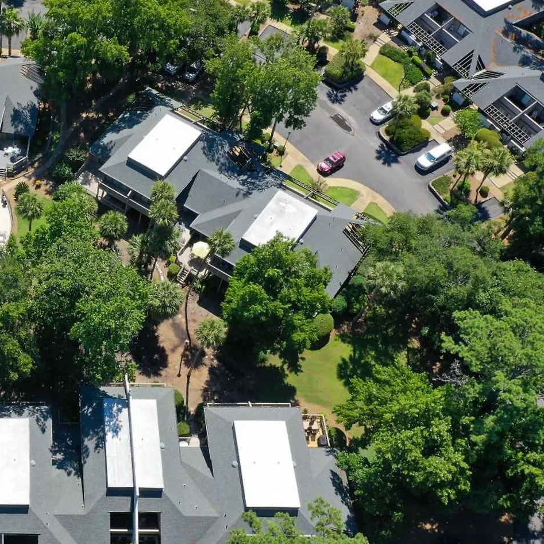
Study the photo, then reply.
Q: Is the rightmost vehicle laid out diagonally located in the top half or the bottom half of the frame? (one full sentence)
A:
Seen from above, the rightmost vehicle laid out diagonally lies in the top half of the view.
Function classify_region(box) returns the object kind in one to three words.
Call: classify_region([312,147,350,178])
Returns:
car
